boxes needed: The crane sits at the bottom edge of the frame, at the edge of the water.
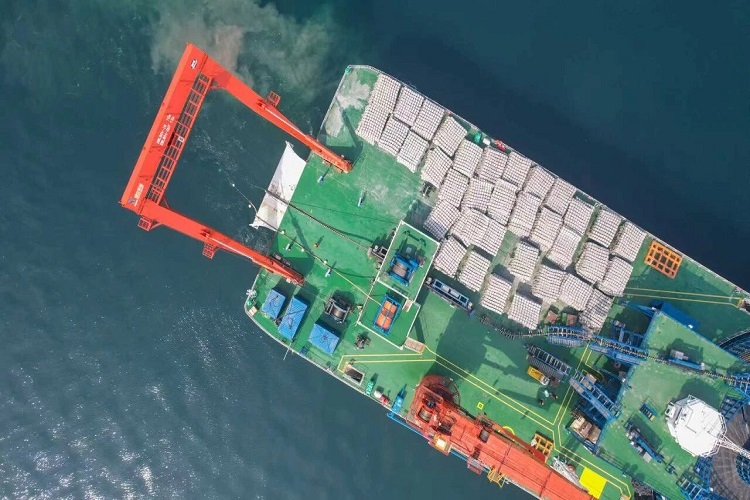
[404,373,604,500]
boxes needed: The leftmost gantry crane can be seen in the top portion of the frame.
[119,43,357,289]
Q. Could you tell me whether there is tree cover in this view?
No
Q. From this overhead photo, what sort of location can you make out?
port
